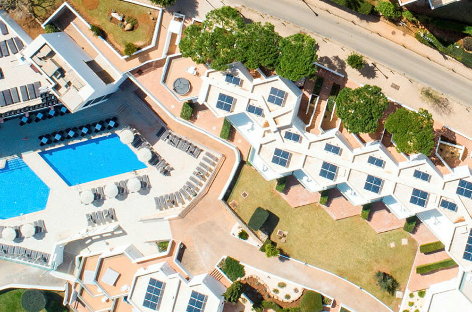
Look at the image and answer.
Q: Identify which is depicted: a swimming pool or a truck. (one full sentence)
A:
It is a swimming pool that can be seen here.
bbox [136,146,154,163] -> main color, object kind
white umbrella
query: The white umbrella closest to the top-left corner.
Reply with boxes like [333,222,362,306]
[118,128,136,145]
